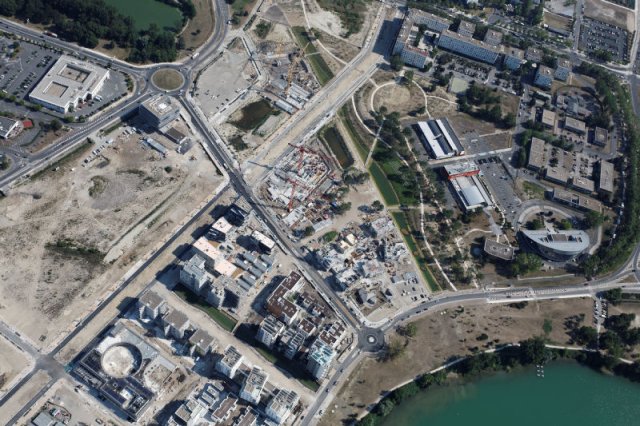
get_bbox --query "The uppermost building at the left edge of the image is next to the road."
[29,54,109,114]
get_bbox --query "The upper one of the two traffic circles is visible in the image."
[141,61,194,98]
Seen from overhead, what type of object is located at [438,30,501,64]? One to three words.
building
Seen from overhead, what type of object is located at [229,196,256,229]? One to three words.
house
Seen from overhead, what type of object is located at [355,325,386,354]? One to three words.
roundabout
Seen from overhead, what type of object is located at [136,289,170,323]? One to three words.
house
